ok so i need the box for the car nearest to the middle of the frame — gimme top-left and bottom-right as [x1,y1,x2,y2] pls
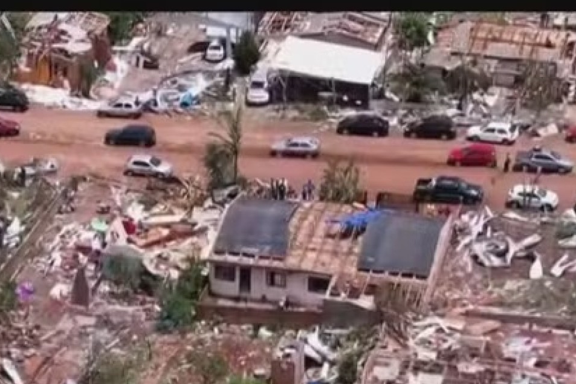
[269,137,321,161]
